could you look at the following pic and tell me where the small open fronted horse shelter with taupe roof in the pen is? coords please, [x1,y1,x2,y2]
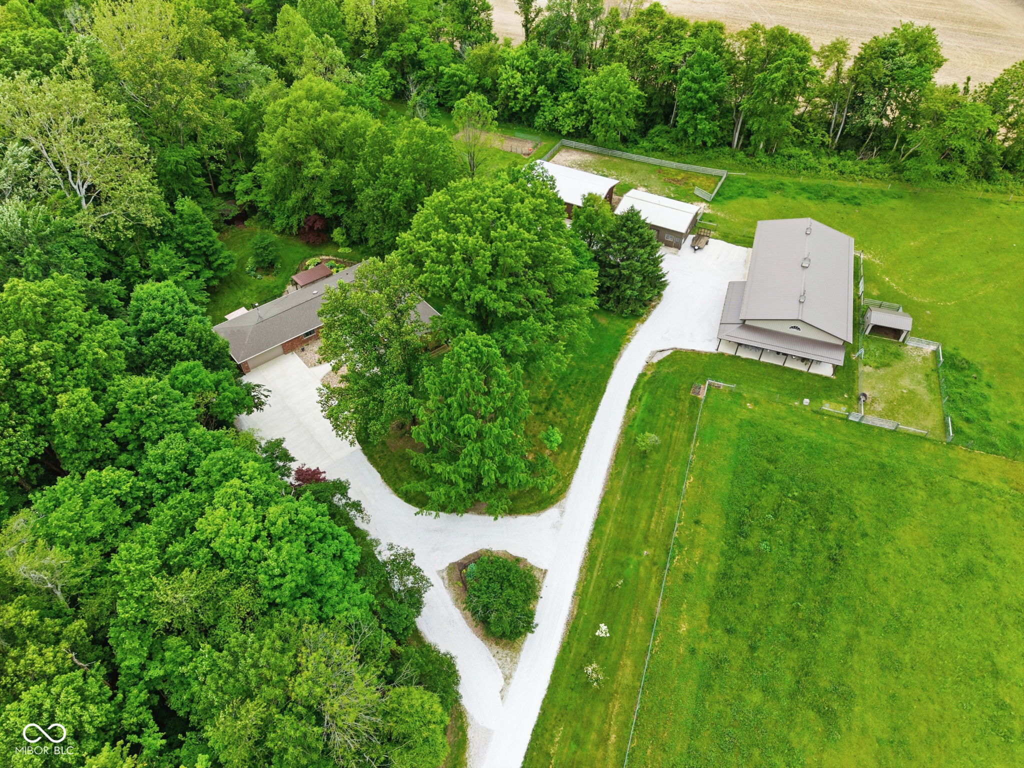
[865,304,910,341]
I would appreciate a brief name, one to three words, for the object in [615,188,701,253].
building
